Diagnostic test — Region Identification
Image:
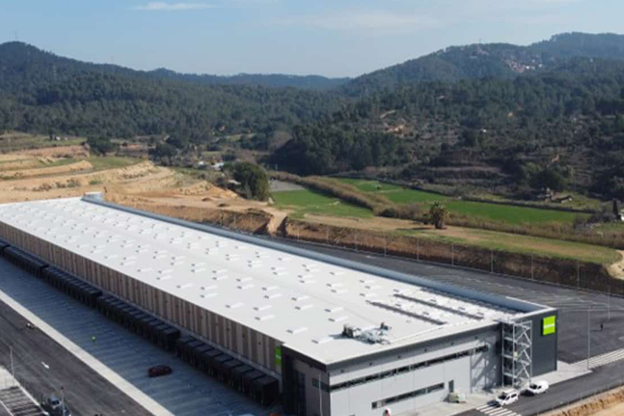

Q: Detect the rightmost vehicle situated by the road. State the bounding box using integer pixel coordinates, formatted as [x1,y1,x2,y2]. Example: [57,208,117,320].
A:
[525,378,551,395]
